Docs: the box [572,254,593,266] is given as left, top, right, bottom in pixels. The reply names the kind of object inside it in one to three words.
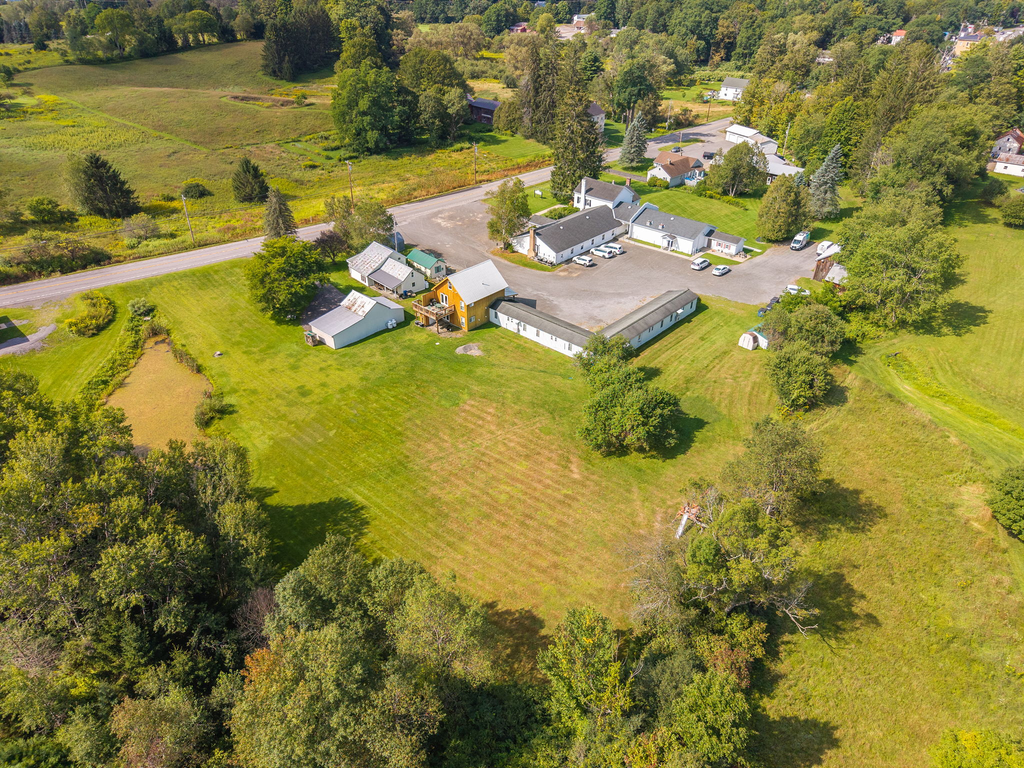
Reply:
vehicle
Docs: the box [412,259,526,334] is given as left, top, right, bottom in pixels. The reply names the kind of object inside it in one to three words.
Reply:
house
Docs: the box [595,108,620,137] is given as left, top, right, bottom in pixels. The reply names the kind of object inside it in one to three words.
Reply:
house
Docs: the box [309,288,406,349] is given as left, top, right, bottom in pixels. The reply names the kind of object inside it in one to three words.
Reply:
building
